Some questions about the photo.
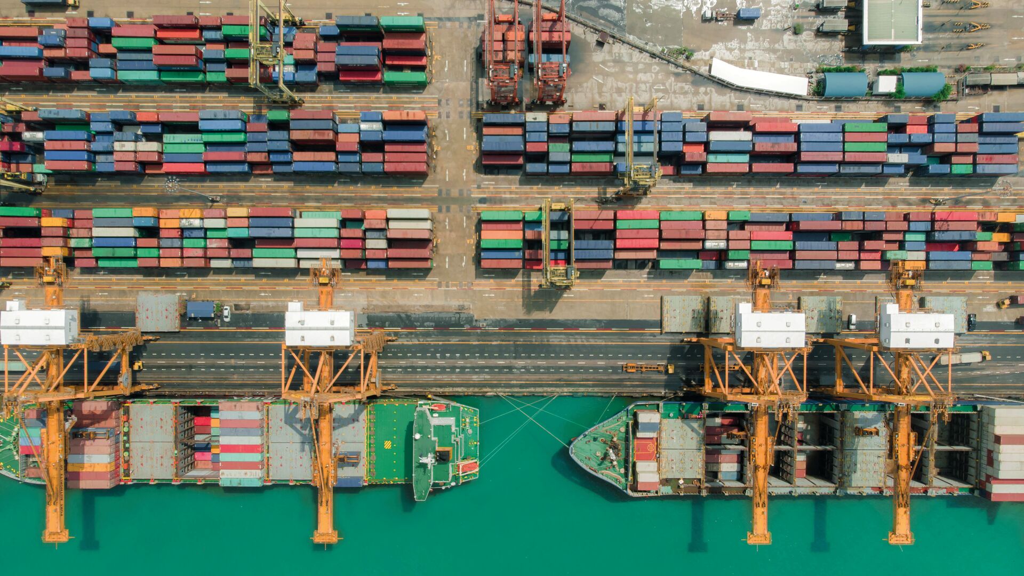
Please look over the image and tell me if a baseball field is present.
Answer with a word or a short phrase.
No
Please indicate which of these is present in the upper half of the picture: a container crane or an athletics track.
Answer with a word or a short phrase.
container crane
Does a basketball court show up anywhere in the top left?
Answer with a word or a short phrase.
No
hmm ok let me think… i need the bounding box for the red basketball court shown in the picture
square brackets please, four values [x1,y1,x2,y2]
[633,436,657,460]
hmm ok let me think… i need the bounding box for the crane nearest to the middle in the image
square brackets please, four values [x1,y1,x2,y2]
[536,197,579,288]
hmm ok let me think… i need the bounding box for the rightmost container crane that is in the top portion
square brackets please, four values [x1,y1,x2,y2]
[611,93,661,192]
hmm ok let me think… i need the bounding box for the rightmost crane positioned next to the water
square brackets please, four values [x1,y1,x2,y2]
[805,258,955,551]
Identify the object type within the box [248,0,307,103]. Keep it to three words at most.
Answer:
container crane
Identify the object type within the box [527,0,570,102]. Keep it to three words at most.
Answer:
container crane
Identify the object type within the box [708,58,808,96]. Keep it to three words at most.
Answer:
shed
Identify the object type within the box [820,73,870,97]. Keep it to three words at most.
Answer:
shed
